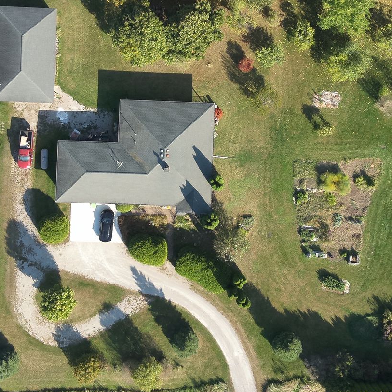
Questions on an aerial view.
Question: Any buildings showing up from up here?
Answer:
Yes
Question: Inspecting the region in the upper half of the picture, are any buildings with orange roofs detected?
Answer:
No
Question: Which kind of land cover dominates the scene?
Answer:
grass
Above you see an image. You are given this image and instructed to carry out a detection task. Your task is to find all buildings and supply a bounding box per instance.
[55,99,228,216]
[0,6,58,104]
